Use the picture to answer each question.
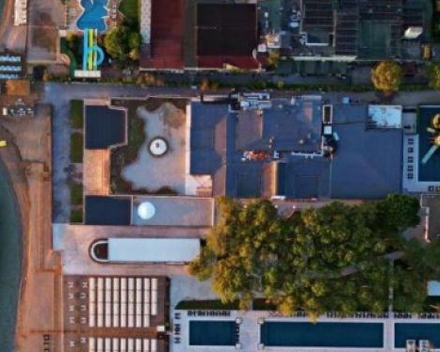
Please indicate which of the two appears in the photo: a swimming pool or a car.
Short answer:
swimming pool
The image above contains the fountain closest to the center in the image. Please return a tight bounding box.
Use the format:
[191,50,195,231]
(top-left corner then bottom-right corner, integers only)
[147,136,169,157]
